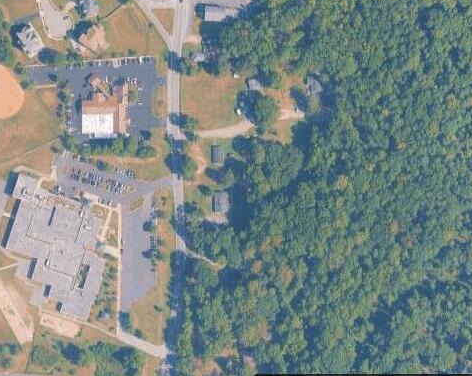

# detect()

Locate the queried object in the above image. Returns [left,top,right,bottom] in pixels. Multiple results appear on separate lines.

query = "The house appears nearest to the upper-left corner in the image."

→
[17,26,42,55]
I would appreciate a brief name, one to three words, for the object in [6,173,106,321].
building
